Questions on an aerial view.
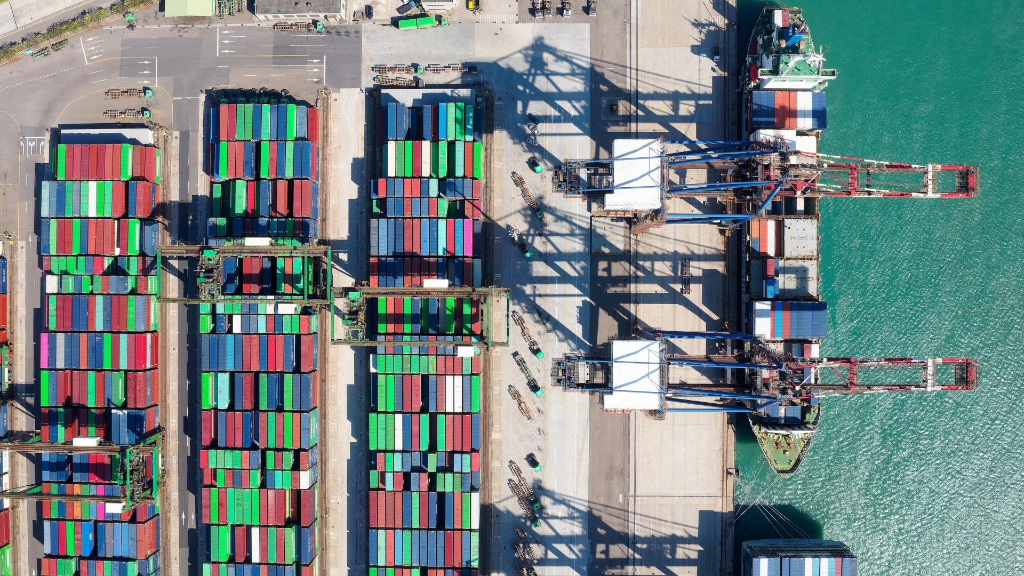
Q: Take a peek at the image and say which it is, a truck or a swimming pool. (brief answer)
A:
truck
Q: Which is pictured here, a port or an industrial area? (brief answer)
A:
port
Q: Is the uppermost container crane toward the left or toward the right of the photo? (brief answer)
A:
right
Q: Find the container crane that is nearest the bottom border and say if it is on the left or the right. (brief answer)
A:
left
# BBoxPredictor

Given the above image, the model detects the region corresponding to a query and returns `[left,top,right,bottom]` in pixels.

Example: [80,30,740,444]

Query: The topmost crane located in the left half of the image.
[157,236,327,314]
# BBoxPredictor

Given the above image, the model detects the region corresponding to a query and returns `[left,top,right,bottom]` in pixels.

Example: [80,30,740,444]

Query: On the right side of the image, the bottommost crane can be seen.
[552,318,981,422]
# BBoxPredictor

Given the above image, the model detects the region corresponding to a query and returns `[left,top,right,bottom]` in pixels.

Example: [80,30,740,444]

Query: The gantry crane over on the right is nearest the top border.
[552,135,981,241]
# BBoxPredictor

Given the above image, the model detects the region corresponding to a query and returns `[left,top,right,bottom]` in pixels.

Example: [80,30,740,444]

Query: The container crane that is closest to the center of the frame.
[332,277,509,356]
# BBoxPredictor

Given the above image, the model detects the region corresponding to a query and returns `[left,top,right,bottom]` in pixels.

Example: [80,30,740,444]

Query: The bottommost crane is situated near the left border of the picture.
[0,424,161,512]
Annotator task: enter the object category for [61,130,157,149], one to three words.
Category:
shed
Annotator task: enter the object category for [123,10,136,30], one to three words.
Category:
vehicle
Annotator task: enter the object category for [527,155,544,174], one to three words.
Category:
work vehicle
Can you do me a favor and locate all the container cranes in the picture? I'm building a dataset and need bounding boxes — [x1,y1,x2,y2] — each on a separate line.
[552,318,981,422]
[332,277,509,356]
[552,135,981,241]
[0,424,161,512]
[157,236,327,314]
